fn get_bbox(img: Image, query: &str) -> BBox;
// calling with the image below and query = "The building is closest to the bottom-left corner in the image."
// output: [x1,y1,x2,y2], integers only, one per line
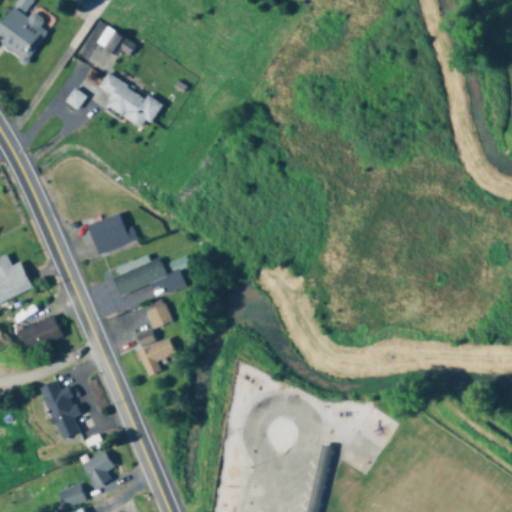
[59,484,86,506]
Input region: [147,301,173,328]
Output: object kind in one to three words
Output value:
building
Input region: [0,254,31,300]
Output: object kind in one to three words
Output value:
house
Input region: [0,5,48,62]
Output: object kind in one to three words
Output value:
house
